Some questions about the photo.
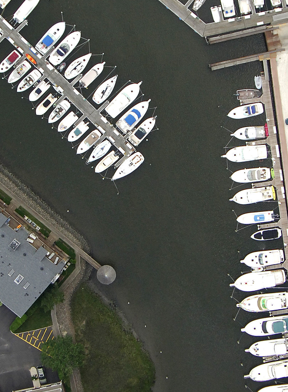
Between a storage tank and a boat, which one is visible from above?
boat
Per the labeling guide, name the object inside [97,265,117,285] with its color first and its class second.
gray gazebo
